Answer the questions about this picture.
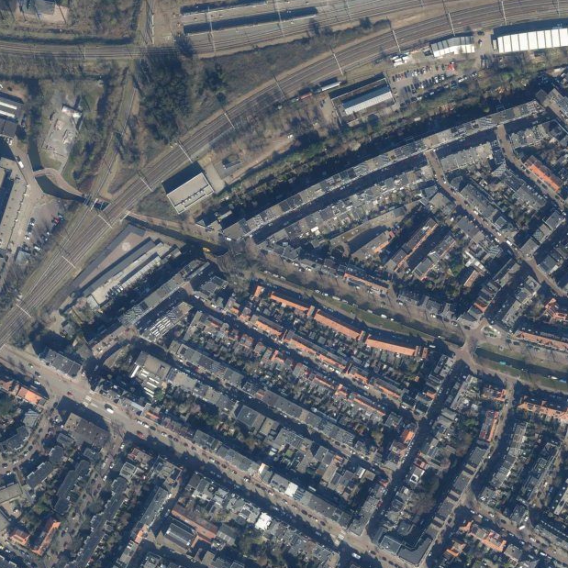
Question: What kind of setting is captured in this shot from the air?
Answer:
residential area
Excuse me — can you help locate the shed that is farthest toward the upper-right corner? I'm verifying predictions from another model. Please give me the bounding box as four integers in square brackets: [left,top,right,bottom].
[526,29,568,50]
